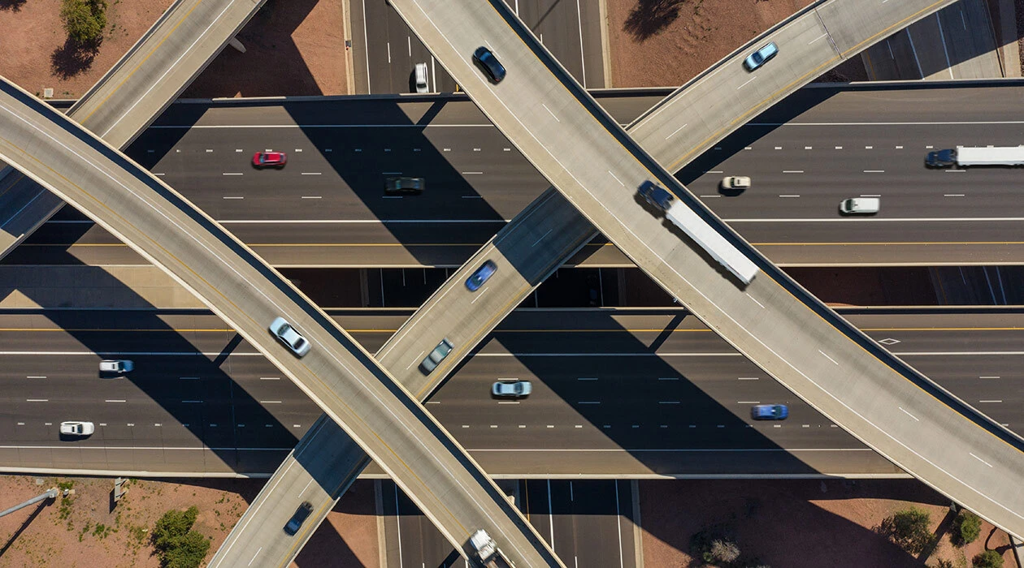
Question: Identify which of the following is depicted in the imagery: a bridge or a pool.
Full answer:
There is a bridge in the scene.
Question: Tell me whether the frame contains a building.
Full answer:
No, I can see no building in this picture.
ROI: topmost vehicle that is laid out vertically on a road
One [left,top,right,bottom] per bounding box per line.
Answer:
[415,62,429,93]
